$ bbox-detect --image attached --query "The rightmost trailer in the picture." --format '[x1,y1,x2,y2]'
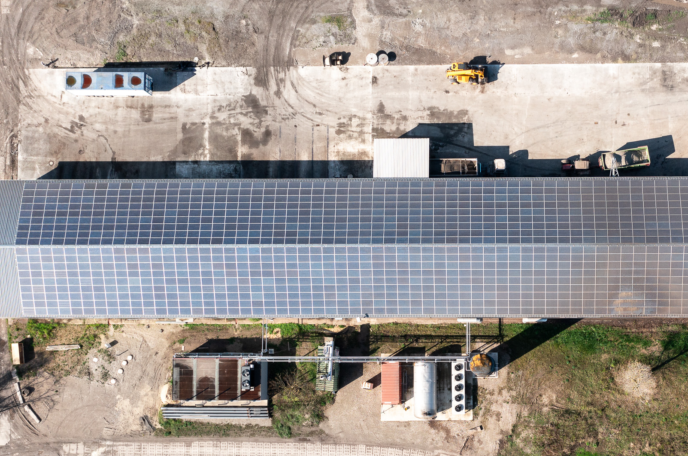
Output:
[589,145,652,174]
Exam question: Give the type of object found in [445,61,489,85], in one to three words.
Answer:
work vehicle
